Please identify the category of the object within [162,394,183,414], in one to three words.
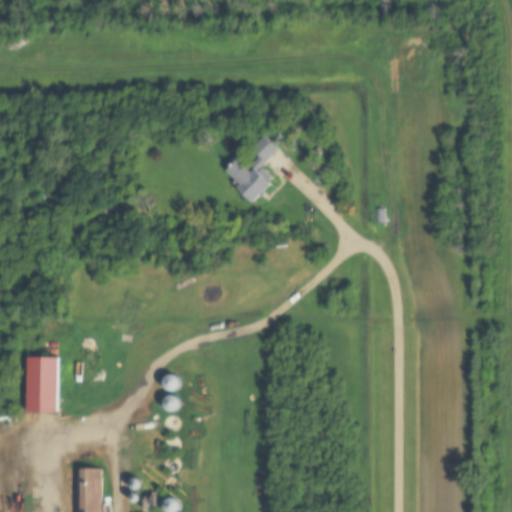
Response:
silo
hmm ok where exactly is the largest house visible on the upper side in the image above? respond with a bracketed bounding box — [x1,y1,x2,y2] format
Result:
[224,138,278,203]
